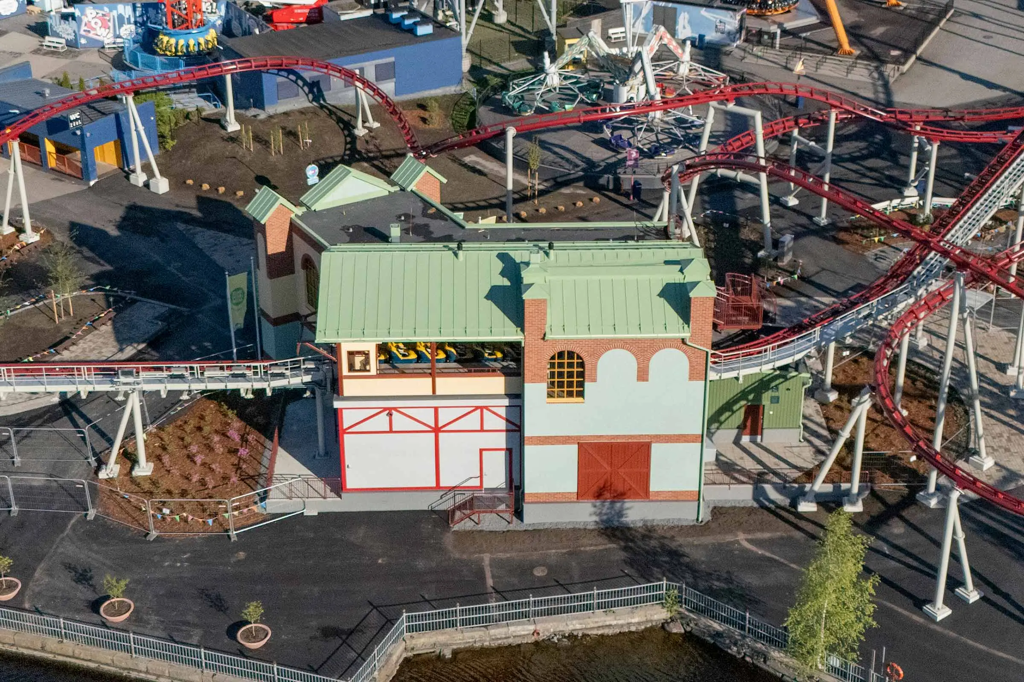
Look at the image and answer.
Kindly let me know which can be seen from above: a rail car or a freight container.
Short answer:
rail car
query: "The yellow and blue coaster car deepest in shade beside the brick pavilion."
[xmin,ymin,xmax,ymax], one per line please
[479,342,514,366]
